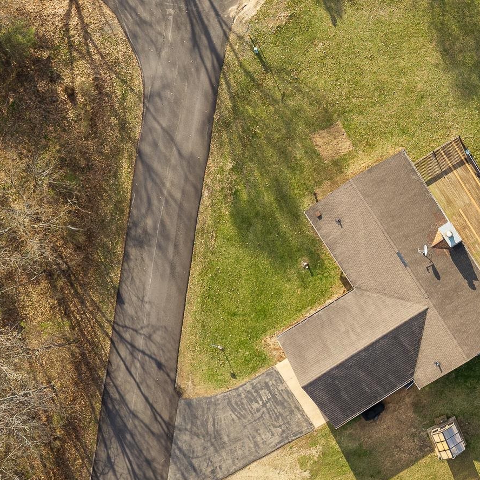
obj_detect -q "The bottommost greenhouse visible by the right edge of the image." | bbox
[429,413,471,460]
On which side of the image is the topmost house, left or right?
right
